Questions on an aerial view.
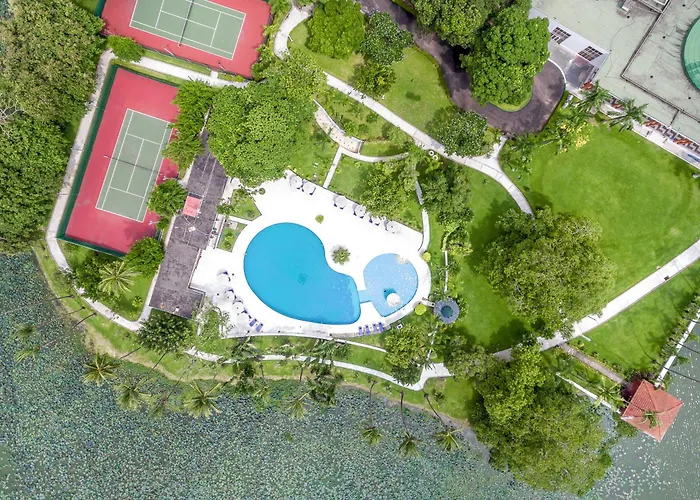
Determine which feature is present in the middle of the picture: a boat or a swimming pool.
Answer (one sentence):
There is a swimming pool in the middle of the picture.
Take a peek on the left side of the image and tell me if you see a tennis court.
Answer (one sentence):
Yes, looking on the left side of the image, one can make out a tennis court.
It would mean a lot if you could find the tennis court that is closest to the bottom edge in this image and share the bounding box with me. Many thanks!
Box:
[65,68,200,256]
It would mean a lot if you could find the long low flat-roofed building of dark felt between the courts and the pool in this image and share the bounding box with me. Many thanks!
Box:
[149,129,229,319]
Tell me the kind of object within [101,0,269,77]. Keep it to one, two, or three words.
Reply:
tennis court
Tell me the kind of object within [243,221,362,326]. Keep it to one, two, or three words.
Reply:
swimming pool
